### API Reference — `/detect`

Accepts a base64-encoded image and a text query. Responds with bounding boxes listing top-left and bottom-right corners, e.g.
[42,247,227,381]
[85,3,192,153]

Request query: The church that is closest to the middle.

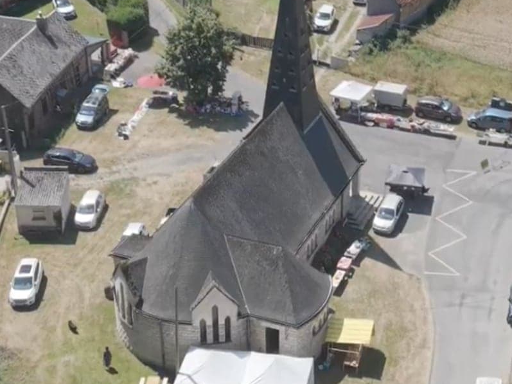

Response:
[105,0,387,371]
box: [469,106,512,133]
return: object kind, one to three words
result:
car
